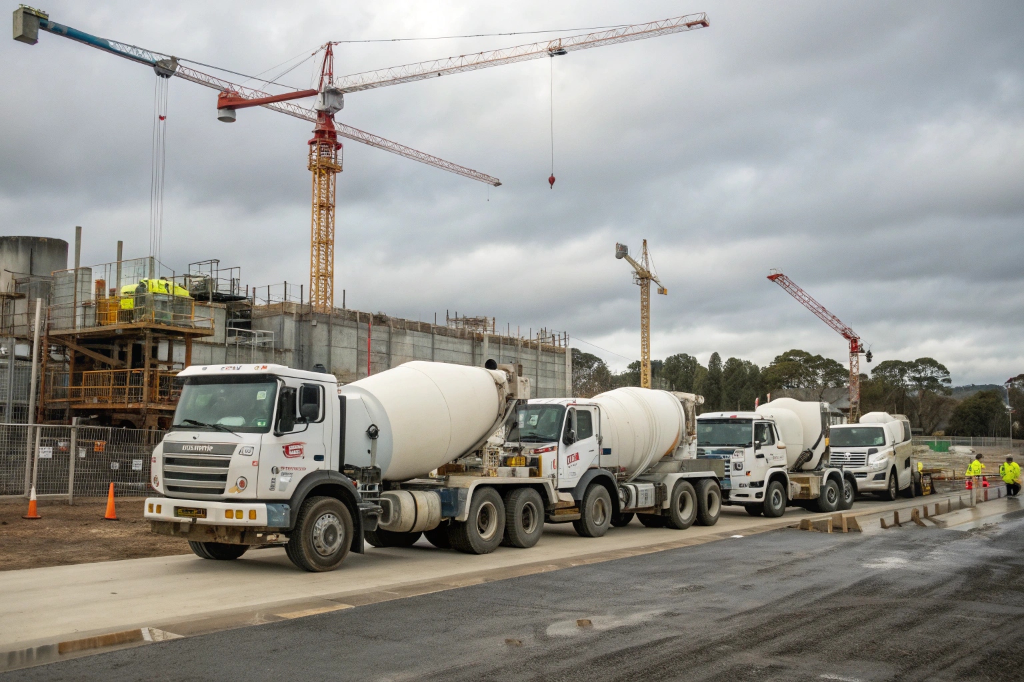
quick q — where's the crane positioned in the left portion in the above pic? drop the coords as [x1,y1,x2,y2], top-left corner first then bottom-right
[10,0,711,311]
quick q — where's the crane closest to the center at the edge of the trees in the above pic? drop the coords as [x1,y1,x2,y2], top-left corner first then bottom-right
[568,240,667,372]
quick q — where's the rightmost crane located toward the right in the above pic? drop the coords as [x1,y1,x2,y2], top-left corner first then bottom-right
[767,255,894,401]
